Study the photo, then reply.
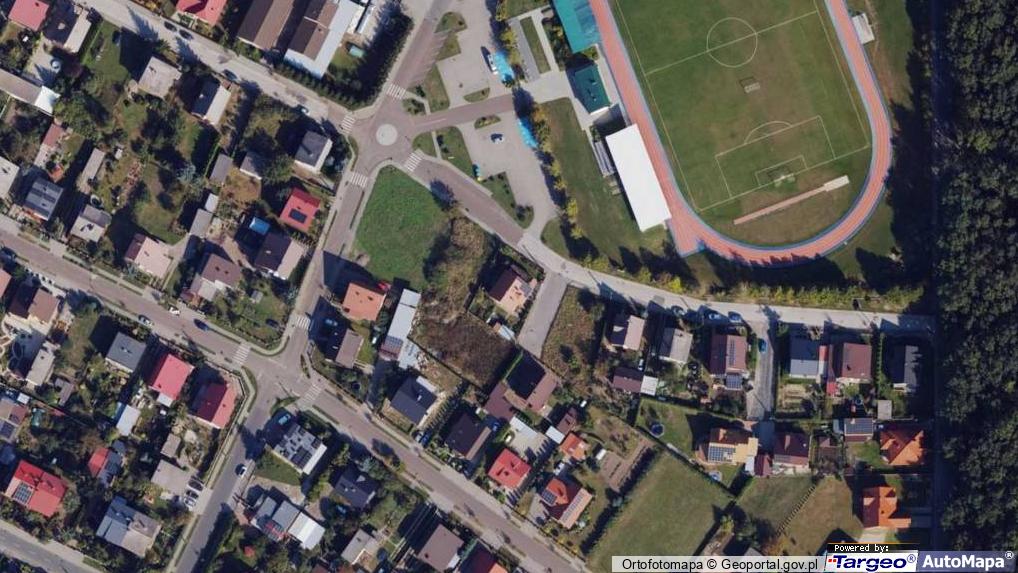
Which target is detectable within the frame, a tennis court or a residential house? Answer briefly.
residential house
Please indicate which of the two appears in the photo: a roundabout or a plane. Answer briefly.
roundabout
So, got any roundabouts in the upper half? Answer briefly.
Yes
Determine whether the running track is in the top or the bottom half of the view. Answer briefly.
top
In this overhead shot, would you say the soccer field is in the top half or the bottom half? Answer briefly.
top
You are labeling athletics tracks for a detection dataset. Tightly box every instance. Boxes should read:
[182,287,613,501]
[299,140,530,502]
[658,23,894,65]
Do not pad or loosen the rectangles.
[585,0,896,273]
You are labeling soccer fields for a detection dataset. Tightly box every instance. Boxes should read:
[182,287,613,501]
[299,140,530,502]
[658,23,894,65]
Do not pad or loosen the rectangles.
[608,0,872,249]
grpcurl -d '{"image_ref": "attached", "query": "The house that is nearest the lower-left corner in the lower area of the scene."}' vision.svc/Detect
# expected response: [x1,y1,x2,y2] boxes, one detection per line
[2,459,69,517]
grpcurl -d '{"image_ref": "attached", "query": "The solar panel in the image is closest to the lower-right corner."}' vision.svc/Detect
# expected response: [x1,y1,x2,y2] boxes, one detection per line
[844,420,872,434]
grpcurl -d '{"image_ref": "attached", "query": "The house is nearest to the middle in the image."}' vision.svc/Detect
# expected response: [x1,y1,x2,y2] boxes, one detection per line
[487,265,535,310]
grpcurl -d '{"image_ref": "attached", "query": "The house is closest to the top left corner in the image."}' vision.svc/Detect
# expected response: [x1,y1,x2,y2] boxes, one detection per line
[8,0,48,32]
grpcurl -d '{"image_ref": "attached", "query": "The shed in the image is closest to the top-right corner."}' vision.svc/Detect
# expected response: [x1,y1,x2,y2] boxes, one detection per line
[852,13,875,44]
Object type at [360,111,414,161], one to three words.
roundabout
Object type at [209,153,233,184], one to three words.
building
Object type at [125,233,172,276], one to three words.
house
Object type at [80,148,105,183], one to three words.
shed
